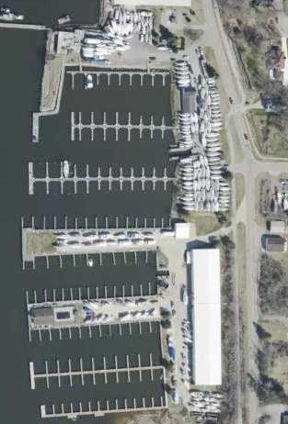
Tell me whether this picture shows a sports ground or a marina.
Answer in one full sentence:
This looks like a marina.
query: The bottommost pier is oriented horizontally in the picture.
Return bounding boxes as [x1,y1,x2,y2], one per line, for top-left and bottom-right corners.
[41,397,167,419]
